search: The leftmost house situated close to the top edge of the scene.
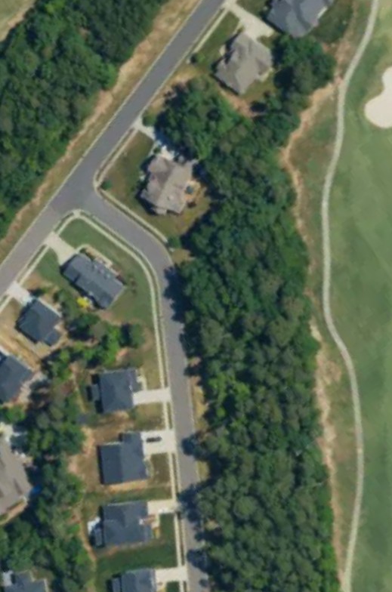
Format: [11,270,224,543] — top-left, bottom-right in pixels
[211,26,276,92]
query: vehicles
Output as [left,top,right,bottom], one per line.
[148,436,161,442]
[157,507,170,513]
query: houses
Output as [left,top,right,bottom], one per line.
[15,297,63,344]
[90,367,143,410]
[93,501,155,546]
[137,150,198,218]
[0,350,35,408]
[211,26,276,92]
[58,248,124,314]
[110,568,156,592]
[97,430,149,484]
[263,0,334,41]
[0,427,33,512]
